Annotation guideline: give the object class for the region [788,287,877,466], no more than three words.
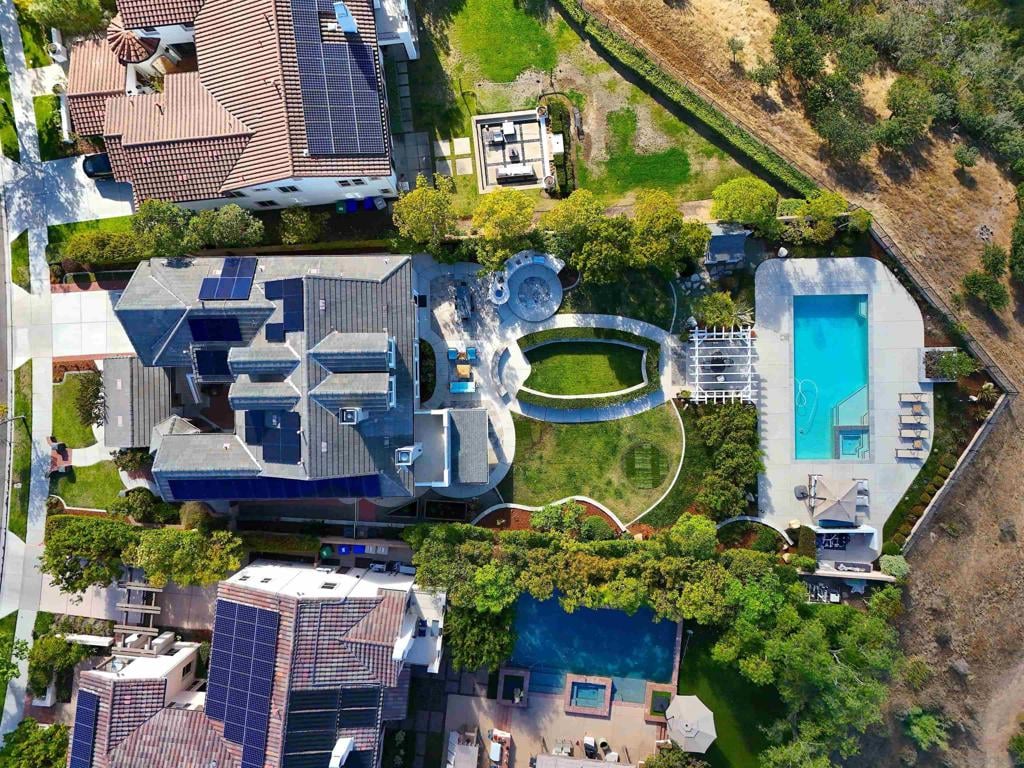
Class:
swimming pool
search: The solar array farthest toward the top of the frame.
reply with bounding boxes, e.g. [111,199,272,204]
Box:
[292,0,385,153]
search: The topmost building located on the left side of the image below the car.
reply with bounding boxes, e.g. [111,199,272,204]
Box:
[103,256,489,503]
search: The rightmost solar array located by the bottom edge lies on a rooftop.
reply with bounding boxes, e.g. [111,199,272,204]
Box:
[204,600,277,768]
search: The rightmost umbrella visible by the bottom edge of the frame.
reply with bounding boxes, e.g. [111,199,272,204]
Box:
[665,694,717,753]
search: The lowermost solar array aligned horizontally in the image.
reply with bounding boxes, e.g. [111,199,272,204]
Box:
[167,479,380,501]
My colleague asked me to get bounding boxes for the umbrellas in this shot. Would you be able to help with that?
[812,480,858,521]
[665,694,717,753]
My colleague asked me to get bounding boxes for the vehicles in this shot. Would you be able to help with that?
[80,149,114,183]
